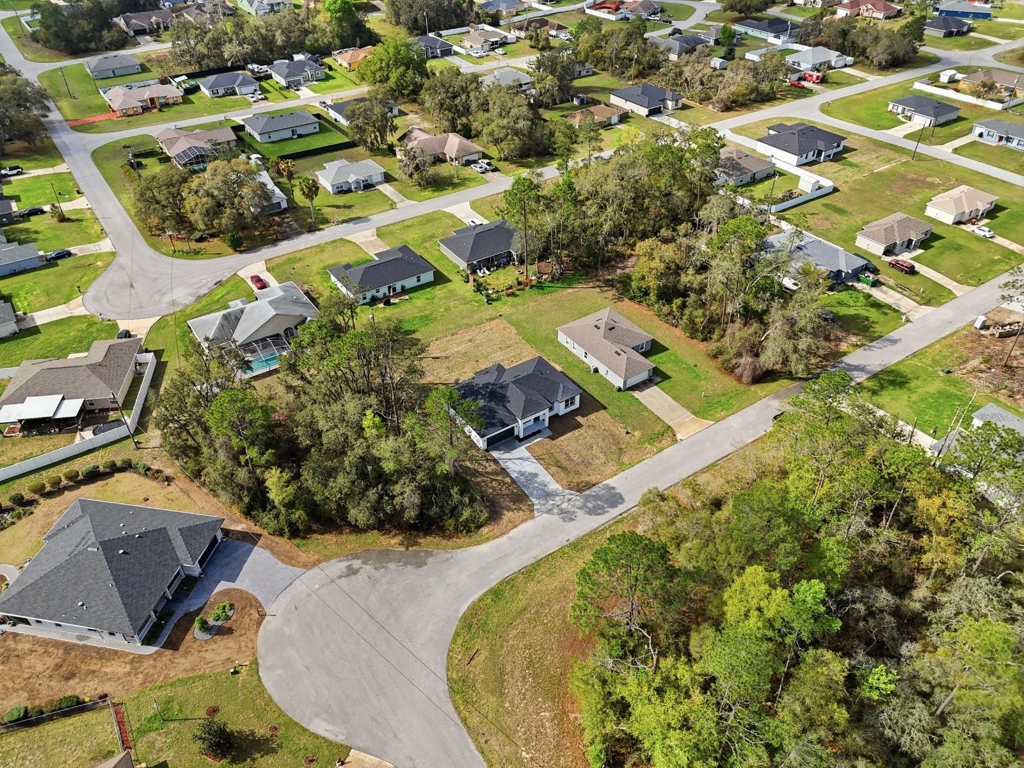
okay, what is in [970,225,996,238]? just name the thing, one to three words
vehicle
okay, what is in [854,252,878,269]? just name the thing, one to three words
vehicle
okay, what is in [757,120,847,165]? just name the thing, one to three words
house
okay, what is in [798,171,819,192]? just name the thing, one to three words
shed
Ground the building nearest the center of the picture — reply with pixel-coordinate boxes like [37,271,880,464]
[447,356,585,450]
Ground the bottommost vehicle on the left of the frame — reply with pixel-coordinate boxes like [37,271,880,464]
[116,326,130,339]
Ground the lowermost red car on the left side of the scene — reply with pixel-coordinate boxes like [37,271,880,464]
[248,272,265,286]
